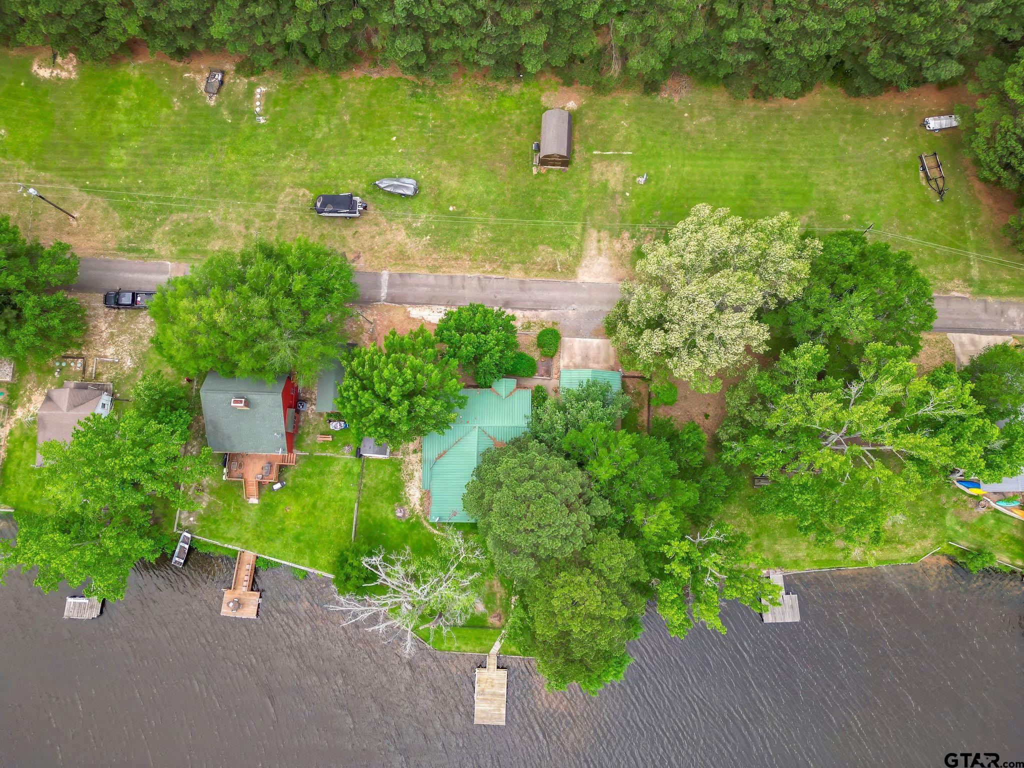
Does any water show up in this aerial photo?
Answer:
Yes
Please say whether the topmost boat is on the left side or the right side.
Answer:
right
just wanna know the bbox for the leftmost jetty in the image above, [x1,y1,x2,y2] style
[63,598,107,619]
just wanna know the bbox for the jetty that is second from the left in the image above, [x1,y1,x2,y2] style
[219,551,265,619]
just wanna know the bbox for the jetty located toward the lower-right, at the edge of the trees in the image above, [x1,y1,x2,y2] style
[760,569,801,623]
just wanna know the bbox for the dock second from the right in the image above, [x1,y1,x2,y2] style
[472,654,507,726]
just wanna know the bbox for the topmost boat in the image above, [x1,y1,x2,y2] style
[919,114,964,134]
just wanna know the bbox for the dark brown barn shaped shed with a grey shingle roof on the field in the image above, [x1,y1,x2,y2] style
[539,109,573,170]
